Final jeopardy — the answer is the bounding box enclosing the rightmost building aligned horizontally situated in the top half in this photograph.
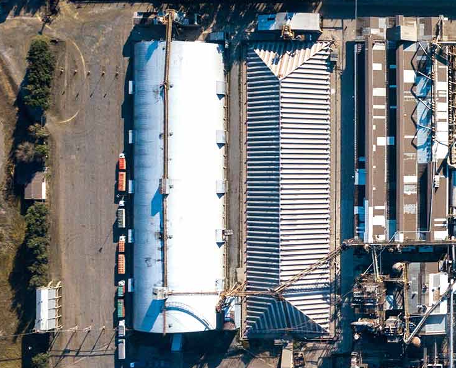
[258,14,329,35]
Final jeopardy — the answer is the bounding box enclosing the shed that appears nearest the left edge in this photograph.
[24,171,49,200]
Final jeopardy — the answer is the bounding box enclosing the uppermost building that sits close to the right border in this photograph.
[355,15,453,241]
